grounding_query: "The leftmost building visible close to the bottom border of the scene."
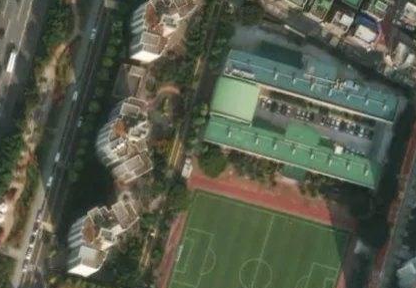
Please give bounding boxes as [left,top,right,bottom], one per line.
[67,200,140,275]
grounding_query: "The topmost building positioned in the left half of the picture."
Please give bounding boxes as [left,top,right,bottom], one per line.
[128,0,198,64]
